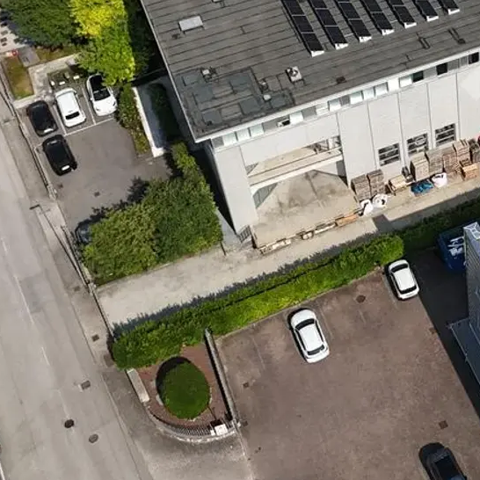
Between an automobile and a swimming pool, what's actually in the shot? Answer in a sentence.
The one in the frame is an automobile.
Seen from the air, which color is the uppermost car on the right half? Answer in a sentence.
In this view, the uppermost car on the right half is white.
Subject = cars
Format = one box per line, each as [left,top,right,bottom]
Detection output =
[383,259,423,305]
[25,101,58,139]
[42,133,78,178]
[421,438,467,480]
[88,79,118,116]
[54,91,87,129]
[288,310,328,365]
